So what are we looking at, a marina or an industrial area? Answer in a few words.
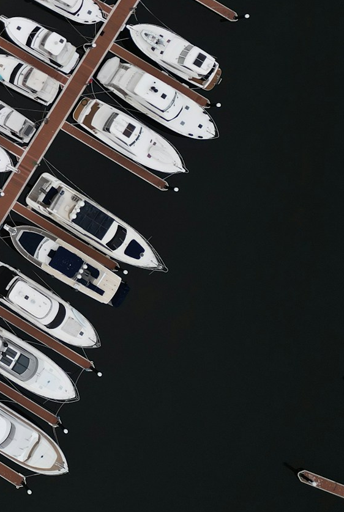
marina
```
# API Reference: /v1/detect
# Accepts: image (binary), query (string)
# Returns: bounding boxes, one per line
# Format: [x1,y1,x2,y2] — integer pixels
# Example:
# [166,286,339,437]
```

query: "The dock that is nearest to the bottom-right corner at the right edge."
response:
[296,471,344,497]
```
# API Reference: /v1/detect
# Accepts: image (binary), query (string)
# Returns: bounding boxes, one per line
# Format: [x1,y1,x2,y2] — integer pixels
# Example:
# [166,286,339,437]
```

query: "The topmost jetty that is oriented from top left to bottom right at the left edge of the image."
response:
[0,36,71,87]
